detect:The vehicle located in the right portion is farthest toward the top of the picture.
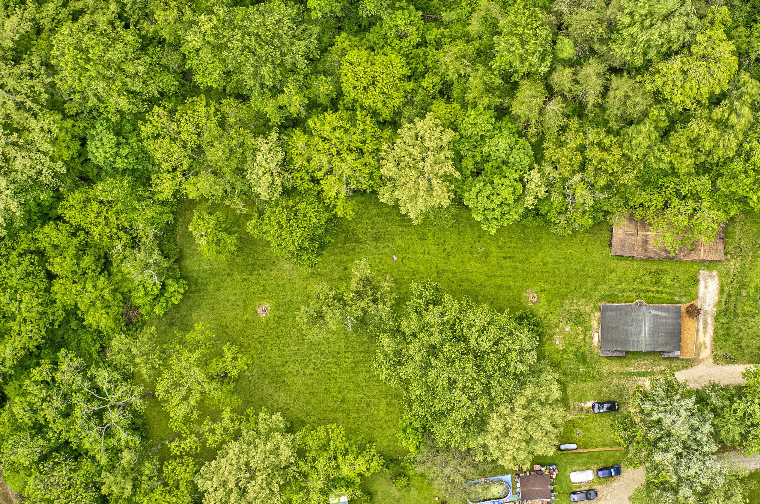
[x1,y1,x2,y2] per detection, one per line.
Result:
[591,400,619,413]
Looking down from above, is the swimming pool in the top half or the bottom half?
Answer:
bottom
